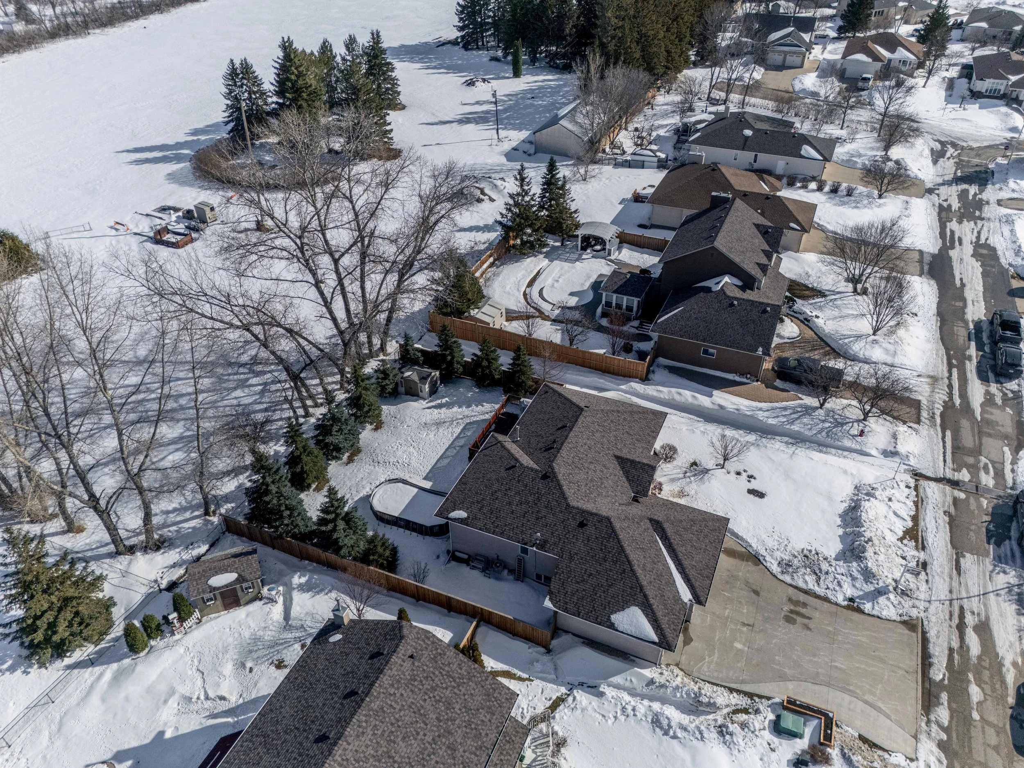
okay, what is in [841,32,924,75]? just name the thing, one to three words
house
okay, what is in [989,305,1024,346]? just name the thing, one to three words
truck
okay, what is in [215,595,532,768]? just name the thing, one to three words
house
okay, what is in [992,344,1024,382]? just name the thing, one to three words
car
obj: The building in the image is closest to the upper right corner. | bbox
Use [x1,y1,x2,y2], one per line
[962,7,1024,41]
